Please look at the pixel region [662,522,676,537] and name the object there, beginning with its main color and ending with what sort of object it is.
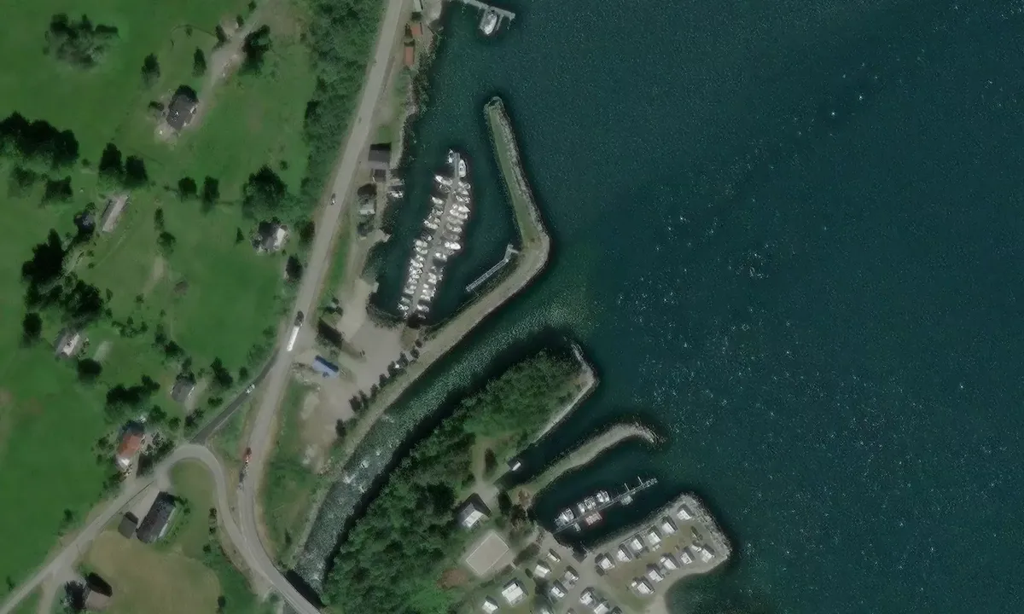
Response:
white camper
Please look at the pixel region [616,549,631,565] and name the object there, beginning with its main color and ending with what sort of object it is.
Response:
white camper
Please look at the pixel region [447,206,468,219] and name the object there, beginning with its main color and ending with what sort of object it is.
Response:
white boat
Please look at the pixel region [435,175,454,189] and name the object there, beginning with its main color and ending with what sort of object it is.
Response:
white boat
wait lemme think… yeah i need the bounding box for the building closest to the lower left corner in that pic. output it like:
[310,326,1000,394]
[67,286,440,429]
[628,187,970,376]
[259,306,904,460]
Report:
[84,581,114,609]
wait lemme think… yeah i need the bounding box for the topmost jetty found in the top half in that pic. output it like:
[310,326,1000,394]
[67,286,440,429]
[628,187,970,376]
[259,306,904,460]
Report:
[465,0,515,29]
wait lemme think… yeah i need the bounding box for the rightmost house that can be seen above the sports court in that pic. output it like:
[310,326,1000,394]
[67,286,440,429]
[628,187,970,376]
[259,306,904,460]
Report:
[459,502,485,529]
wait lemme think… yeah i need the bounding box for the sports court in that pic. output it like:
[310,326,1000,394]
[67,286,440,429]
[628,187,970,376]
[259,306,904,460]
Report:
[466,532,509,575]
